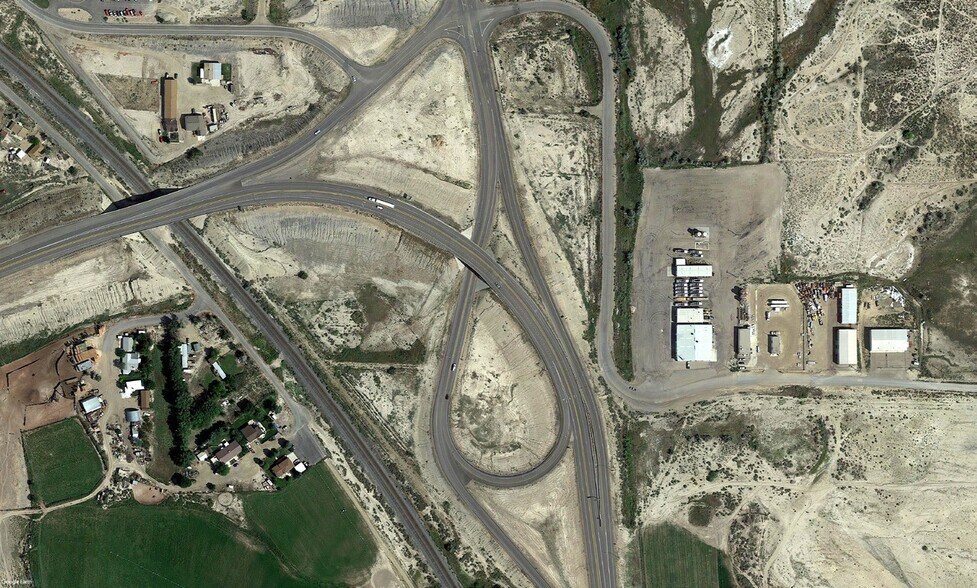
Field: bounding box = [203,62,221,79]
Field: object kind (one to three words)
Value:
house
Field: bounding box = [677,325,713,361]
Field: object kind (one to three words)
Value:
building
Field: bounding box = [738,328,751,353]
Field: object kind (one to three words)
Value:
building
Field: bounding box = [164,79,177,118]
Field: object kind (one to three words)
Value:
shed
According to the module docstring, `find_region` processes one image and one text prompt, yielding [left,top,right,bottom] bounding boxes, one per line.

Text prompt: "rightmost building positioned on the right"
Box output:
[871,329,909,352]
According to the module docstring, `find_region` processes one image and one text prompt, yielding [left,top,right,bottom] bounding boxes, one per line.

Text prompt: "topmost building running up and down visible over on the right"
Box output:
[842,288,858,324]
